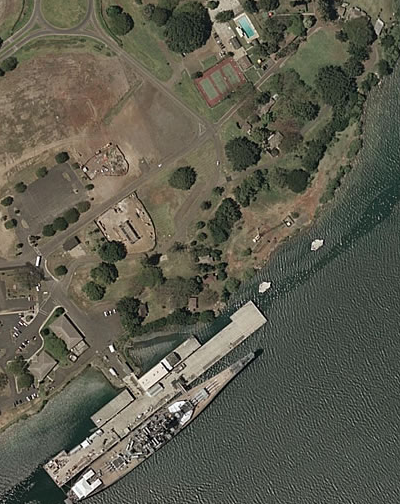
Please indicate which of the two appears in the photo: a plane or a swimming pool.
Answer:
swimming pool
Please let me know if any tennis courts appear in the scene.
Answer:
Yes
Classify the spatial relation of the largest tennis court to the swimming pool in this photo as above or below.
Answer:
below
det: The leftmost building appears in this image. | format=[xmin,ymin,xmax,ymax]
[30,351,58,381]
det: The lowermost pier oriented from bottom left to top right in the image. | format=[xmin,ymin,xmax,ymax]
[44,301,267,487]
